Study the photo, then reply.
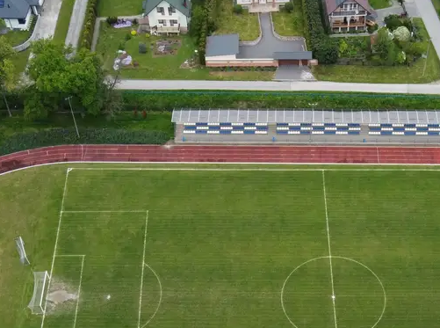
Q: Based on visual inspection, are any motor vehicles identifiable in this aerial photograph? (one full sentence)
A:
No, the scene contains no motor vehicle.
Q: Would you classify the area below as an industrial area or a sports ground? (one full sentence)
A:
This image shows a sports ground.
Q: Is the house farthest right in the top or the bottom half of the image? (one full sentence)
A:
The top half of the photo is where the house farthest right is.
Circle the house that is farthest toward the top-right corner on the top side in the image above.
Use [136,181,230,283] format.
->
[326,0,375,40]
